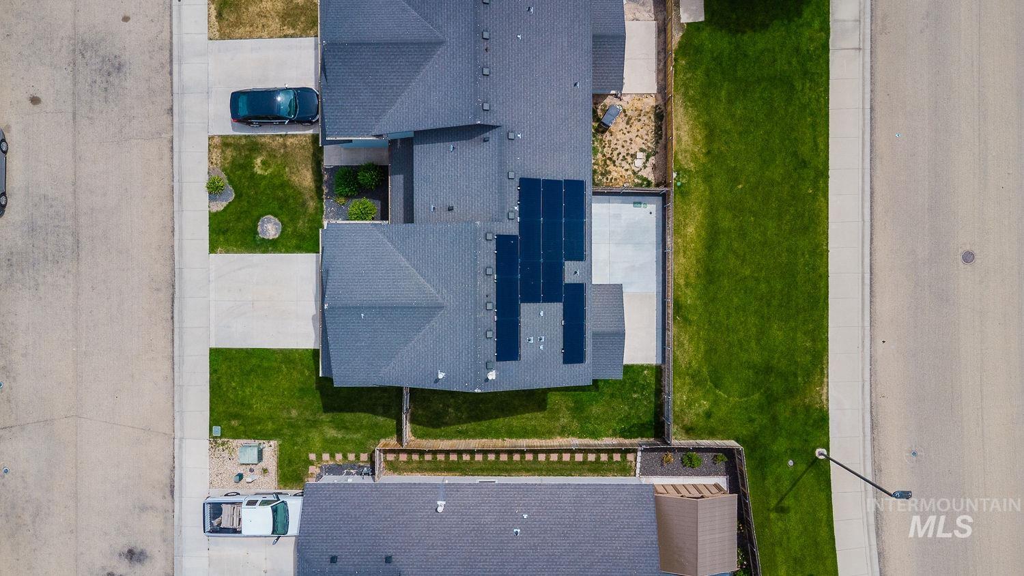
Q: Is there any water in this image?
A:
No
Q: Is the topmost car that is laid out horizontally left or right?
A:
left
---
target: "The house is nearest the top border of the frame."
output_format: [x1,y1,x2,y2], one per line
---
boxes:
[317,0,625,393]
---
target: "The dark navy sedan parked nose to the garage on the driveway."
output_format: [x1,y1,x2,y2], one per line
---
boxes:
[230,83,317,126]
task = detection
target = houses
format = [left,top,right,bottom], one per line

[317,0,625,393]
[296,477,660,576]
